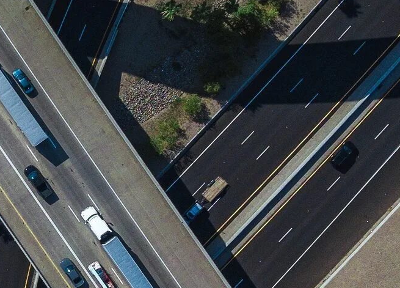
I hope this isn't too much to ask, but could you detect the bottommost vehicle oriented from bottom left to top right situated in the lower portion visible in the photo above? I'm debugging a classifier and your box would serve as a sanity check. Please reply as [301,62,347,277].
[182,197,210,226]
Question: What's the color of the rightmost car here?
black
